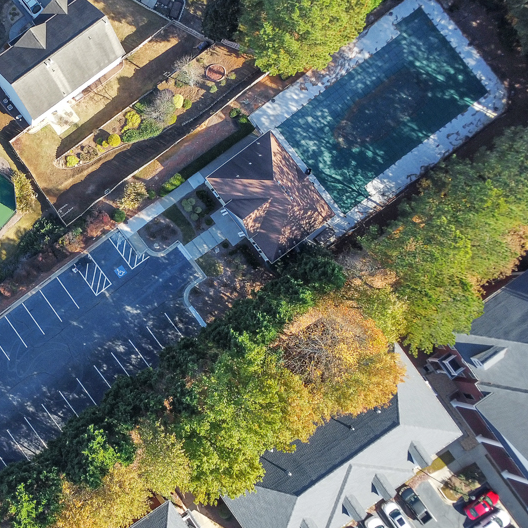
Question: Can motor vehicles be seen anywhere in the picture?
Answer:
Yes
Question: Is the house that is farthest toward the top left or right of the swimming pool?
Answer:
left of it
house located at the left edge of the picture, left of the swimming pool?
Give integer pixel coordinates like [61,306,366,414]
[0,0,123,126]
